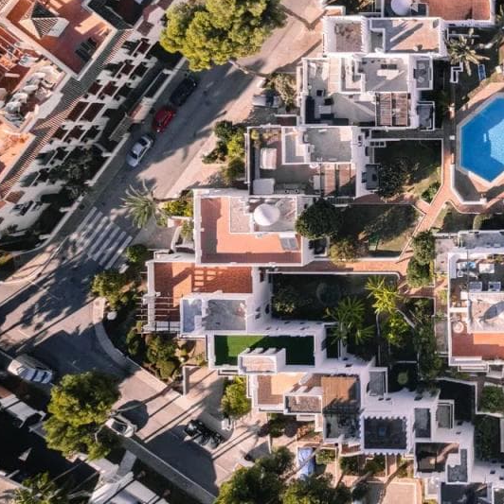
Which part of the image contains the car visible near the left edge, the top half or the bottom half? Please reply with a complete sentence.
The car visible near the left edge sits in the bottom half of the picture.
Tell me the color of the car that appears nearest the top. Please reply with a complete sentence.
The car that appears nearest the top is black.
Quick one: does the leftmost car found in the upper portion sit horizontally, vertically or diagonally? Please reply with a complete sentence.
What the image shows is the leftmost car found in the upper portion lying diagonally.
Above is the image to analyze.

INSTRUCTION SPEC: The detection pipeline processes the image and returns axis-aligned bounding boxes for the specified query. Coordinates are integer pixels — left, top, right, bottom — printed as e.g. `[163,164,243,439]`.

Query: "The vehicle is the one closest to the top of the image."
[167,70,200,109]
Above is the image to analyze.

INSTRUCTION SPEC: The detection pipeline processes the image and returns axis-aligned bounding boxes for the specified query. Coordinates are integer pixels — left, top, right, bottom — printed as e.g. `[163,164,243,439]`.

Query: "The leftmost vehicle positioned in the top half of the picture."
[124,132,158,171]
